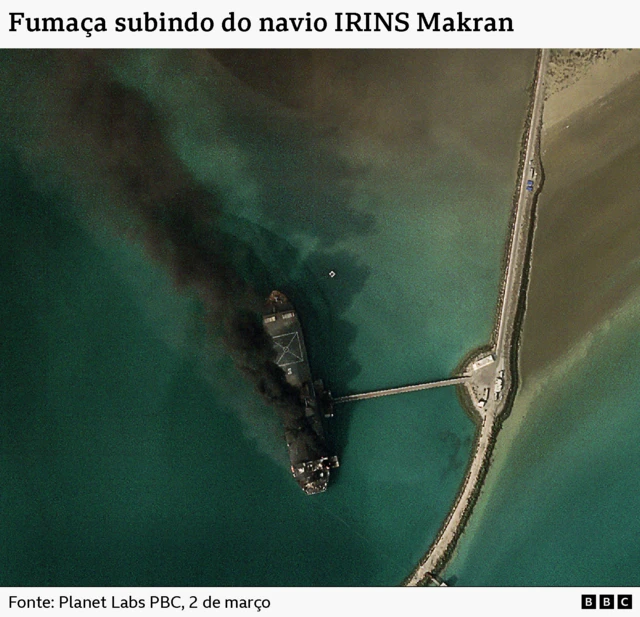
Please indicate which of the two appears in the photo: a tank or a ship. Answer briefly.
ship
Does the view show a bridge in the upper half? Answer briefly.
No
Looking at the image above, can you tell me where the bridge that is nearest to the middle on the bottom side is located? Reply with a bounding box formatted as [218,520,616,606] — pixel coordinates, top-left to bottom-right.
[332,375,471,403]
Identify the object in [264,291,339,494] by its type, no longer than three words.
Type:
ship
